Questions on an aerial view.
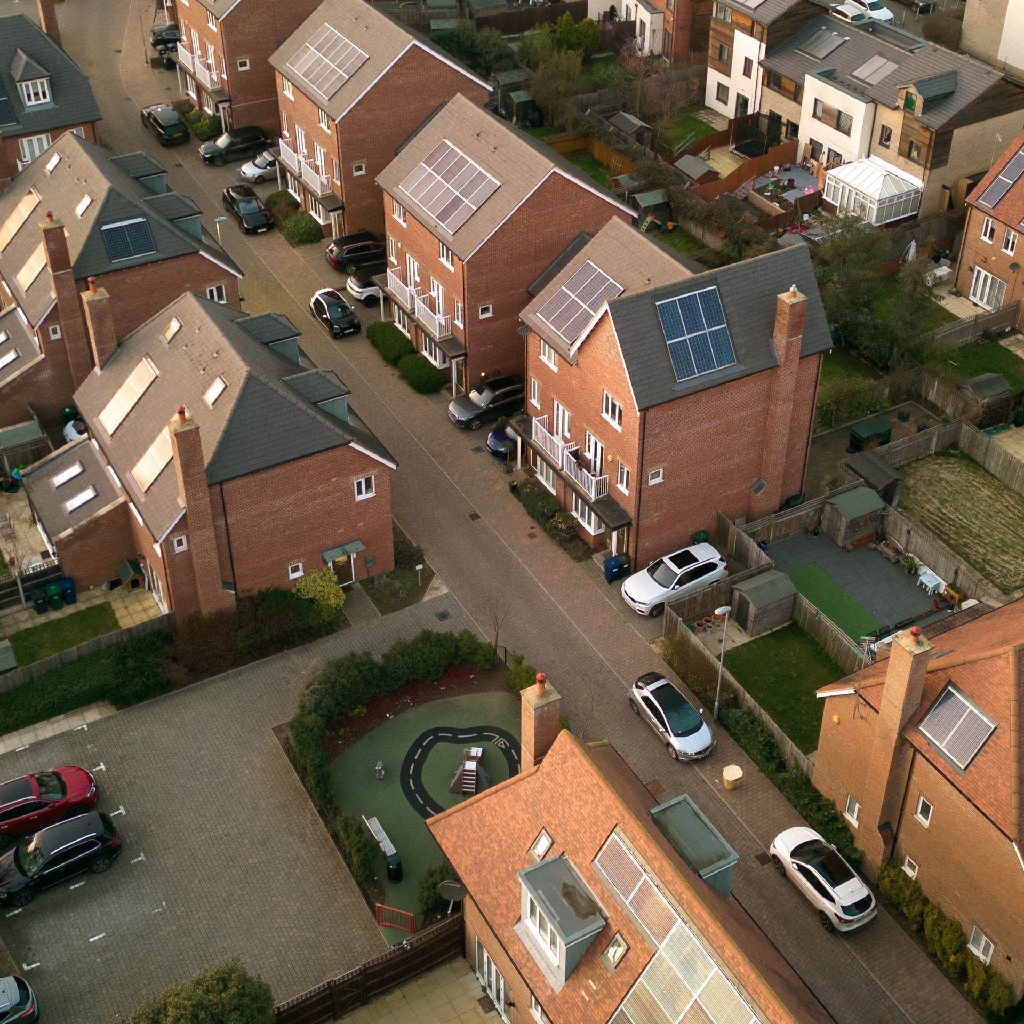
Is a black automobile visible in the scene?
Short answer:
Yes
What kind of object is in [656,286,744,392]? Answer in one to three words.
solar array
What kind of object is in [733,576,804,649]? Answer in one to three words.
shed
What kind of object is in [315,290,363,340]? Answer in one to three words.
car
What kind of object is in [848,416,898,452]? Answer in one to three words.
building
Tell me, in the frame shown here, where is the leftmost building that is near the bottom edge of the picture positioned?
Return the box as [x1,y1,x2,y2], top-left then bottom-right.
[422,672,834,1024]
